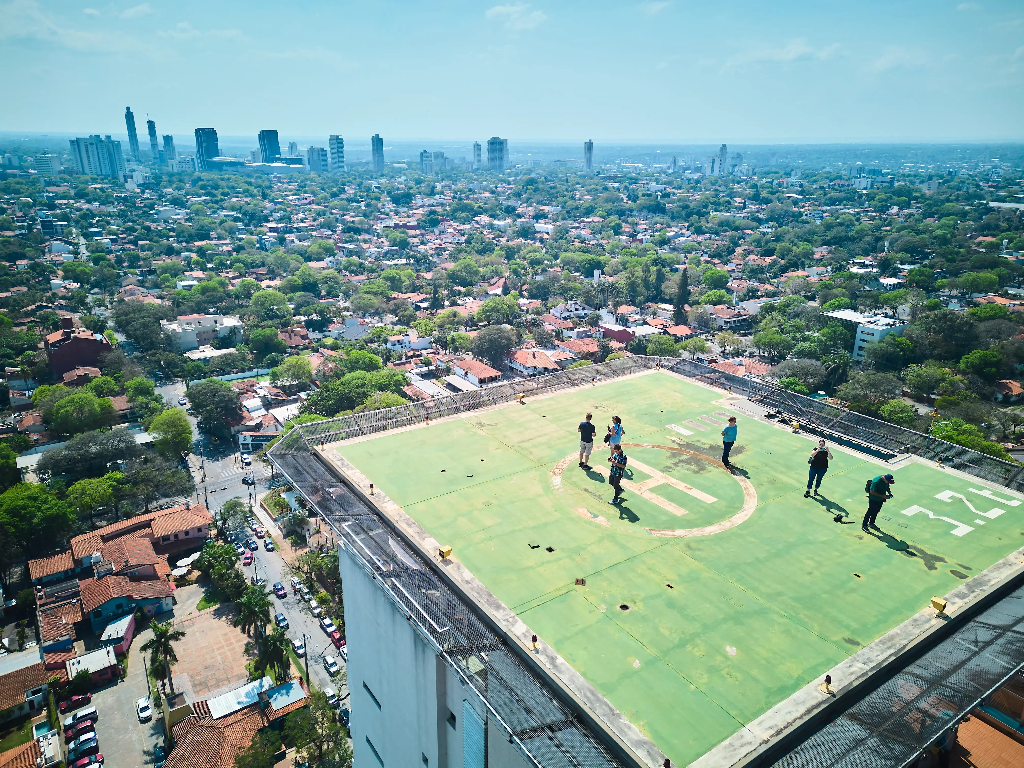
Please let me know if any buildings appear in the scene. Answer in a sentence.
Yes, looking at the shot, I can spot a building.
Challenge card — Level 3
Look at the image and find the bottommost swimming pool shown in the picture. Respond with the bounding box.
[34,719,53,733]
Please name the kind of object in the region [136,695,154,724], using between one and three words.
car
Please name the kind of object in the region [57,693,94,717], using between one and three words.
car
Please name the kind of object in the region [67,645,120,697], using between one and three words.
house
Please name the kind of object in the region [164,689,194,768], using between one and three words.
house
